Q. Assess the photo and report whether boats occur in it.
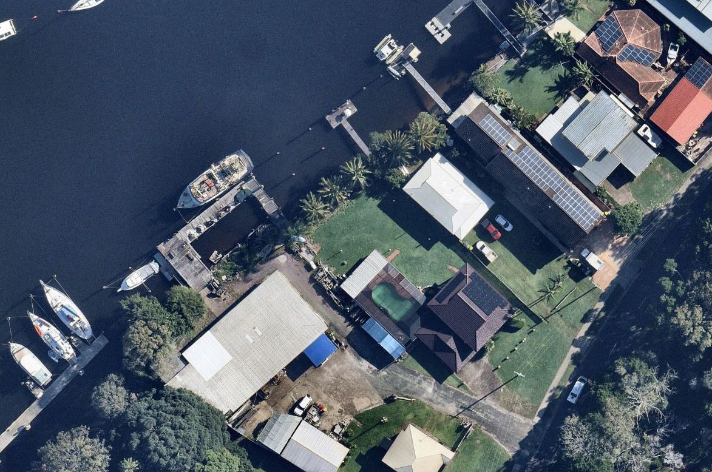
Yes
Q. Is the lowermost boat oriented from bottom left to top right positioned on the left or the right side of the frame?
left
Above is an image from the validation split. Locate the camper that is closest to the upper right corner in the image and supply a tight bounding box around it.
[638,124,662,148]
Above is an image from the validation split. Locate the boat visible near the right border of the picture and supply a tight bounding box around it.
[667,41,679,64]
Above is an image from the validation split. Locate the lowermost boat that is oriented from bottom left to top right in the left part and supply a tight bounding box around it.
[117,260,162,291]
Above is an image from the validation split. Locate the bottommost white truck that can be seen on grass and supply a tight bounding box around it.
[475,239,498,263]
